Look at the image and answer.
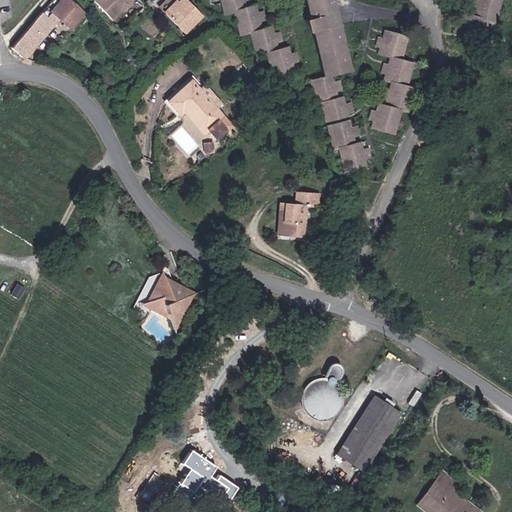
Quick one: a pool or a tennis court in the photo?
pool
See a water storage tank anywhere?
Yes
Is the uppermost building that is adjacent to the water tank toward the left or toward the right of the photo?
right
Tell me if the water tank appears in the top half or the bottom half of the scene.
bottom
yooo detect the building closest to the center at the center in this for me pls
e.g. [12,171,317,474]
[278,192,320,239]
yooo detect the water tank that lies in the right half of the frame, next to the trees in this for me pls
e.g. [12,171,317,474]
[296,364,344,430]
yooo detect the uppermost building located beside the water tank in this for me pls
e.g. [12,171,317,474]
[338,396,401,472]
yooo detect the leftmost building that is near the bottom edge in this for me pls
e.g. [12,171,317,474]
[180,450,239,500]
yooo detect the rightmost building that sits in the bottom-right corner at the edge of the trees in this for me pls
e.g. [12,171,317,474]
[416,471,483,512]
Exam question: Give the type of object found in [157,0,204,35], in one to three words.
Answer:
house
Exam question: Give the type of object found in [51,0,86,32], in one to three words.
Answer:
house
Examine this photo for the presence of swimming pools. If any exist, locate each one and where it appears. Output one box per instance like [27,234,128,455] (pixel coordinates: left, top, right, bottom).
[141,310,172,344]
